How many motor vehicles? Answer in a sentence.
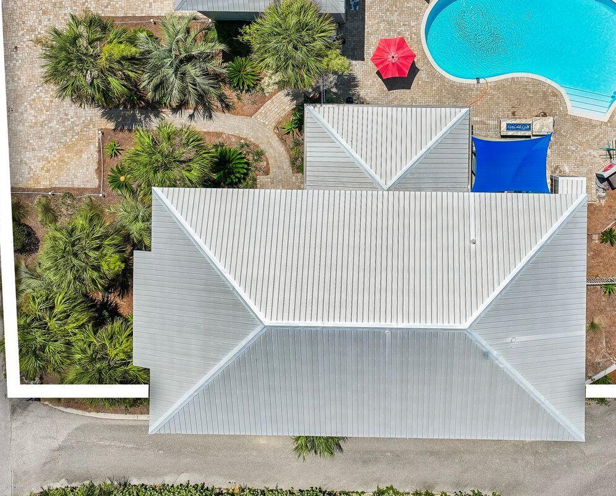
I count no motor vehicles.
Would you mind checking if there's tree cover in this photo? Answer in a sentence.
Yes, some tree cover is visible.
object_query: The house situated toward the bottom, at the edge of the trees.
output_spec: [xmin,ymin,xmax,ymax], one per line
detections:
[134,188,587,442]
